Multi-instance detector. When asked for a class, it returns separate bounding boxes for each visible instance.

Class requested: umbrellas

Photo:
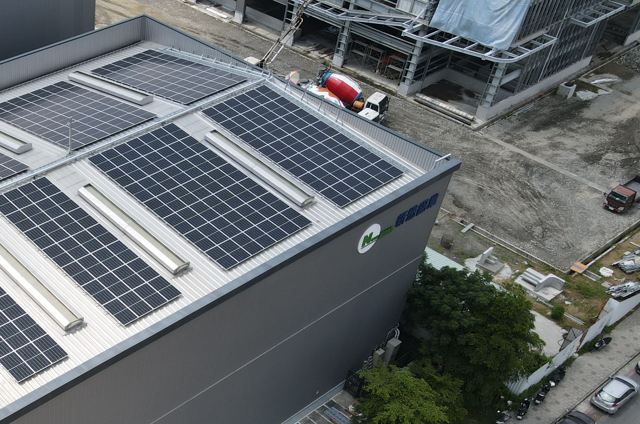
[285,72,302,86]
